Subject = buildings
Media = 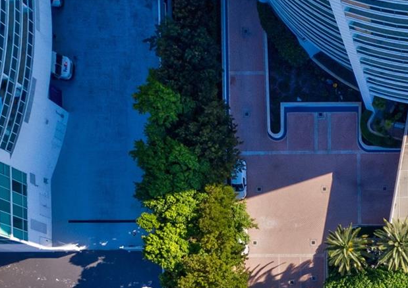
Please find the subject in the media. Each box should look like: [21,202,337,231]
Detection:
[0,0,67,249]
[264,0,408,109]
